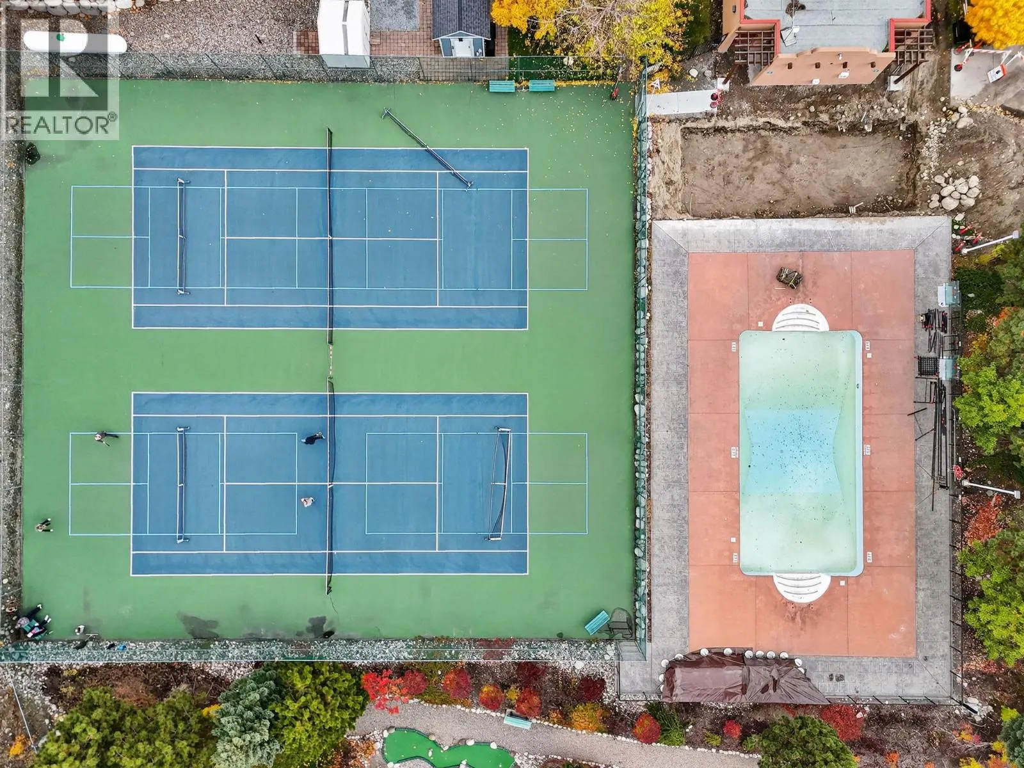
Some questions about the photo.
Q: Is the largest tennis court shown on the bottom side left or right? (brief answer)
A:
left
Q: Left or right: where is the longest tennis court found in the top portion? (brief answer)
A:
left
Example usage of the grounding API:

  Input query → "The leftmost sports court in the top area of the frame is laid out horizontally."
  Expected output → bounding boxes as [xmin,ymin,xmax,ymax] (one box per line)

[70,185,296,289]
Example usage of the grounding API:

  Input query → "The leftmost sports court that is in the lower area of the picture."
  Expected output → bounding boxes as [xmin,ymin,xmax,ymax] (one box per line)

[68,433,297,535]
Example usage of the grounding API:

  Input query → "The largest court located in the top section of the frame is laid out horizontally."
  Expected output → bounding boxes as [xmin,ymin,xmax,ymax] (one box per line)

[131,146,529,330]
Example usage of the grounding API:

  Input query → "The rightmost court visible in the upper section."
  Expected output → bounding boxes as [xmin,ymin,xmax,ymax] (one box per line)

[366,187,588,290]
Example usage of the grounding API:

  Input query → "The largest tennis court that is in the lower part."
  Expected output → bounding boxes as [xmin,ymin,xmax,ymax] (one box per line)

[130,392,529,576]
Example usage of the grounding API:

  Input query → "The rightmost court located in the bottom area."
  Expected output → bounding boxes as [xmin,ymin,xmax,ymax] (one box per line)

[366,433,588,535]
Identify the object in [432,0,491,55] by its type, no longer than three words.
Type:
shed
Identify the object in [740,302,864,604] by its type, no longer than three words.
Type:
swimming pool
